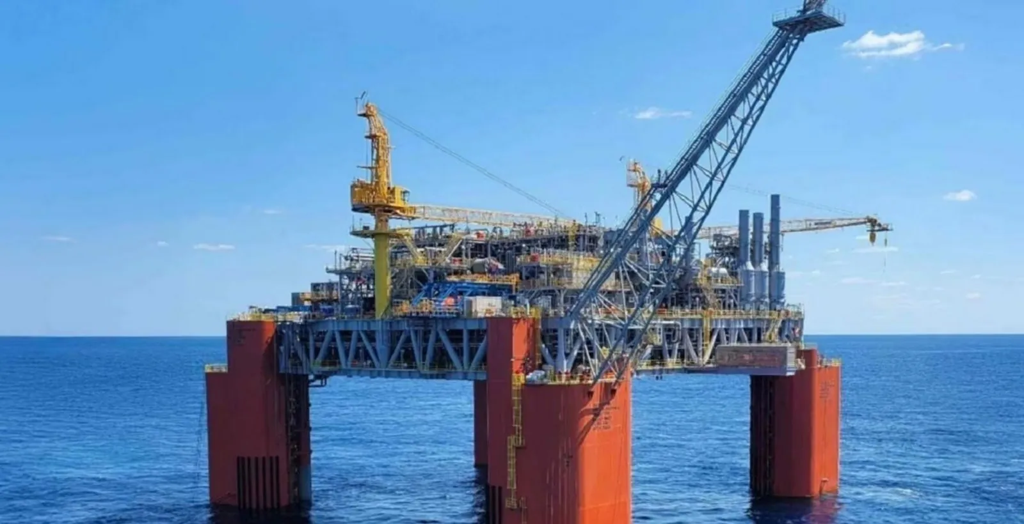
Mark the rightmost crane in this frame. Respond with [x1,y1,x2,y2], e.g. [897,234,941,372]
[623,147,896,272]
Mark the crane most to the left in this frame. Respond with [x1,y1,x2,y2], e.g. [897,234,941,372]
[345,86,587,319]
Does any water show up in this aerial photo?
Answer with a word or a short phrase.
Yes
